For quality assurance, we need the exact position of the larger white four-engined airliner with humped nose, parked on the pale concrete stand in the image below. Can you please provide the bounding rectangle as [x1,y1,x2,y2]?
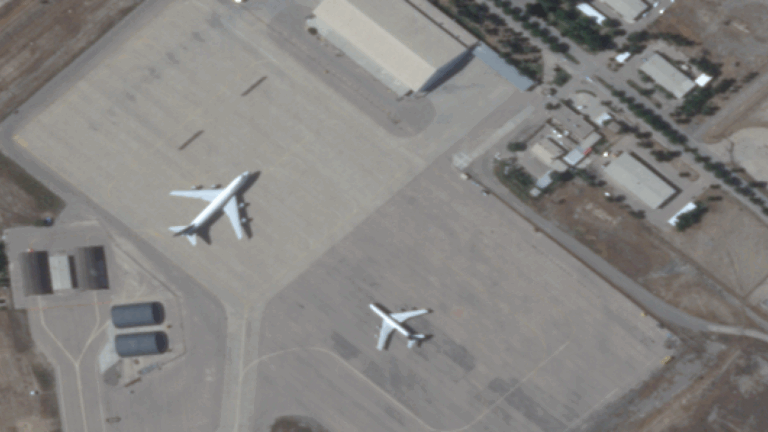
[169,171,249,246]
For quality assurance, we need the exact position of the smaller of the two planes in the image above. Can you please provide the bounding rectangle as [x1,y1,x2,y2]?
[370,304,428,350]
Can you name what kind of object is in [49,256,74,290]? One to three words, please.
building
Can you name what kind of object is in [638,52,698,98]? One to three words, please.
building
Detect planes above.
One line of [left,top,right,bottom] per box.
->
[169,171,249,246]
[370,304,428,350]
